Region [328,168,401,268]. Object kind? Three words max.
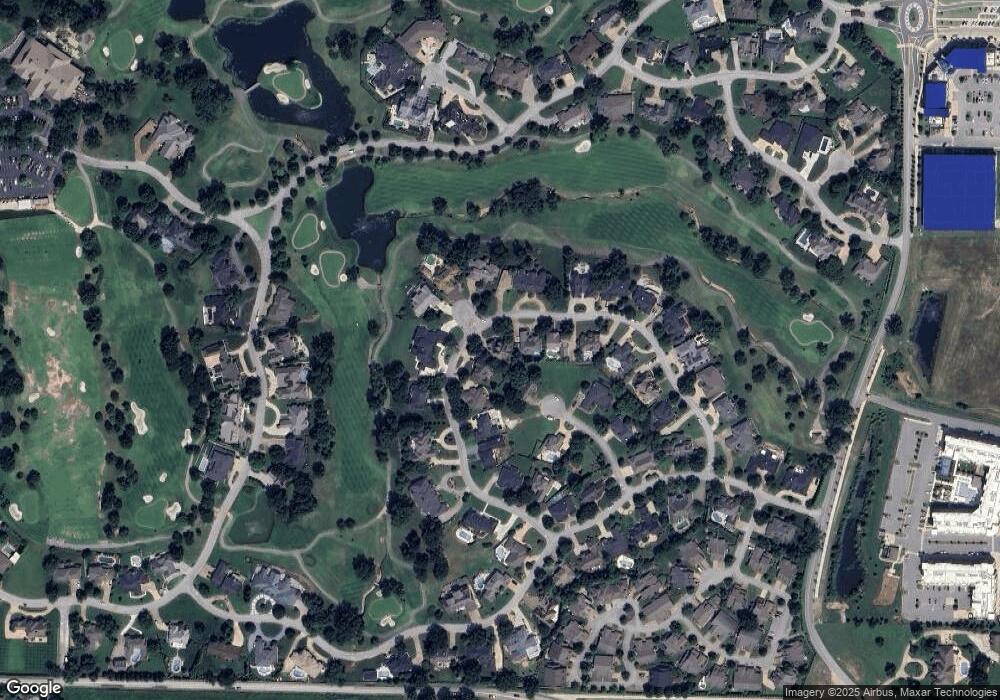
pond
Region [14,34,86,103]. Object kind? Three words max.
building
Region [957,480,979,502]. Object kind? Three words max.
swimming pool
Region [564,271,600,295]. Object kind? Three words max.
house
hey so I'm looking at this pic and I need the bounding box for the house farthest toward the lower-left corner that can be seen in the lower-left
[18,621,57,642]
